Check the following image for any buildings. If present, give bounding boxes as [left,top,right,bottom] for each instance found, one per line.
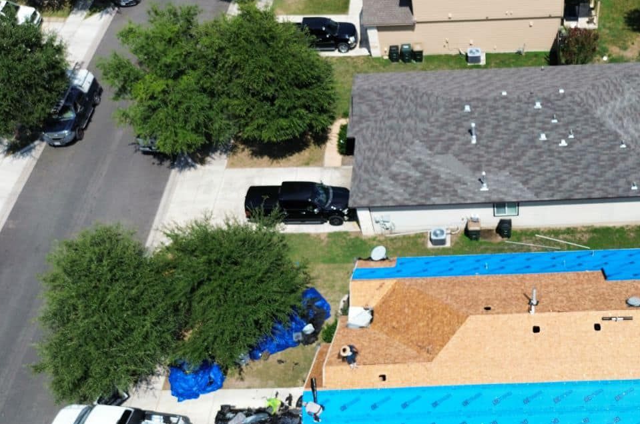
[300,248,640,424]
[347,59,640,239]
[363,0,604,61]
